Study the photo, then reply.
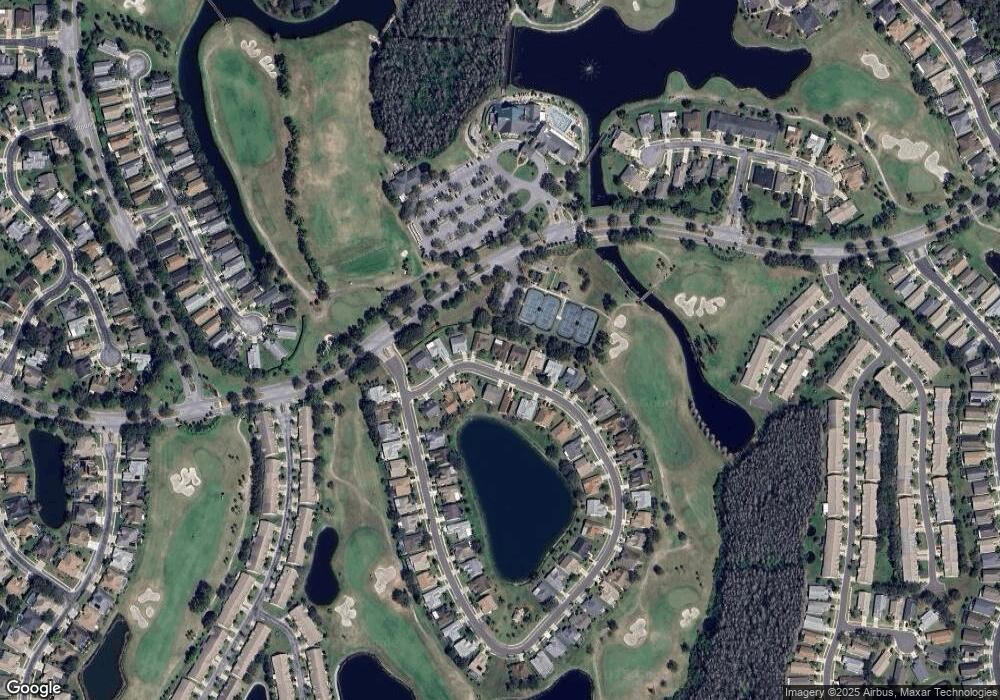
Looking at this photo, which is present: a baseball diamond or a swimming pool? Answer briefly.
swimming pool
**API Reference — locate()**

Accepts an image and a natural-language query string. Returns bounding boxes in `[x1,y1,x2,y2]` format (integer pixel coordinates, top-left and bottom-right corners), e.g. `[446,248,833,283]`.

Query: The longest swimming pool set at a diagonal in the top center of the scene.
[543,103,584,147]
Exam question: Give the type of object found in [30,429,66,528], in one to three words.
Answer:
pond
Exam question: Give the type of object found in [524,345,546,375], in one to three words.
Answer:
house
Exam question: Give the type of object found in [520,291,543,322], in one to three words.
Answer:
tennis court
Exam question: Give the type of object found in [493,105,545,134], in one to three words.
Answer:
building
